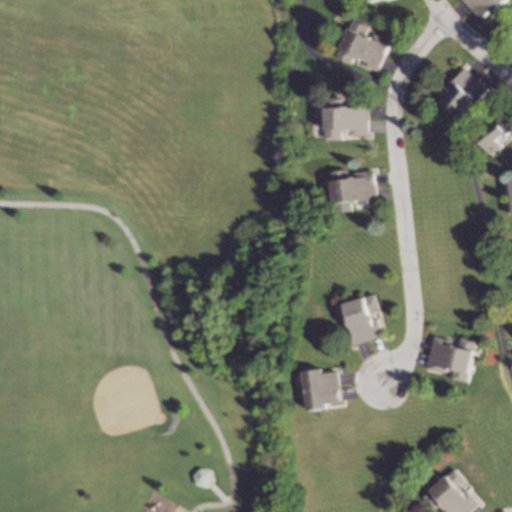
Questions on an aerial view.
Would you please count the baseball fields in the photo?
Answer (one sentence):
The photo contains exactly 1 baseball field.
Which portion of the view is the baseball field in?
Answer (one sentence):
The baseball field appears toward the bottom left of the photo.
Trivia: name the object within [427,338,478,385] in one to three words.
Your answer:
house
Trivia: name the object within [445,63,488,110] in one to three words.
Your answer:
house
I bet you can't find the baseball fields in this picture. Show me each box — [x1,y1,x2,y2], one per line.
[94,366,166,436]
